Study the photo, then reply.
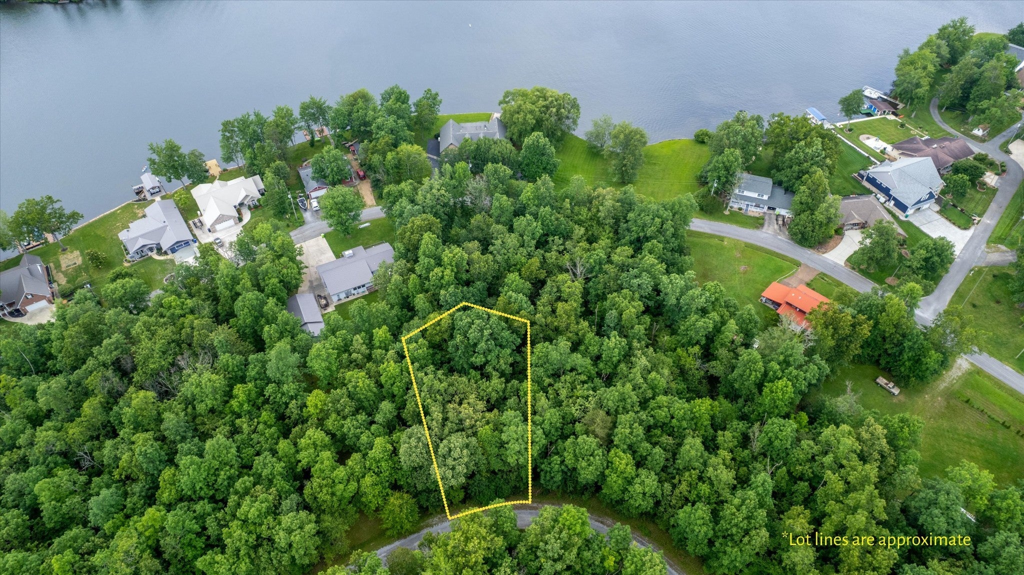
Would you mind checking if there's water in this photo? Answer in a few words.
Yes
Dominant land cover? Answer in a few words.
trees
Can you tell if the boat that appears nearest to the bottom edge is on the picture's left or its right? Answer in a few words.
left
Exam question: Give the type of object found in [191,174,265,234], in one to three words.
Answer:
house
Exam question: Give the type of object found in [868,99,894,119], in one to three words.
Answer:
building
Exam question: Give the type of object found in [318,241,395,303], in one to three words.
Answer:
house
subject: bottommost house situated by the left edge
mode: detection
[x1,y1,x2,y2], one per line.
[0,254,54,316]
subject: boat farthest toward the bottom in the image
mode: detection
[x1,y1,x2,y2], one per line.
[312,287,332,308]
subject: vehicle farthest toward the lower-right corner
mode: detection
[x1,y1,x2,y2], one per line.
[874,373,904,395]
